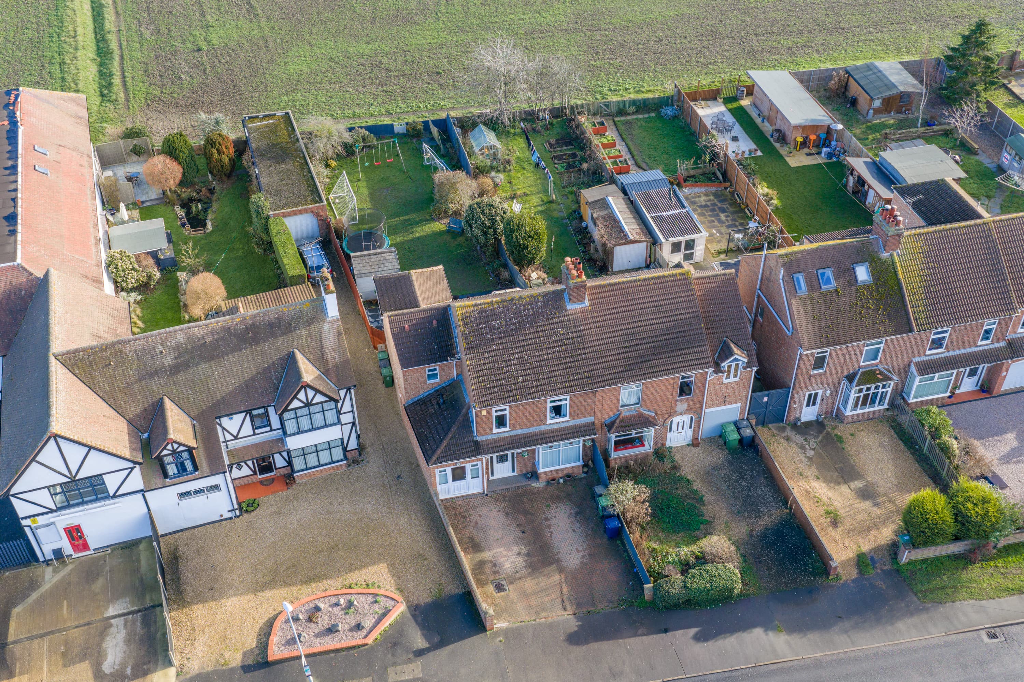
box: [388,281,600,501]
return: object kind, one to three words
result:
house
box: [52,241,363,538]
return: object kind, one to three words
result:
house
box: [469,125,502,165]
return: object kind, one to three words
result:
greenhouse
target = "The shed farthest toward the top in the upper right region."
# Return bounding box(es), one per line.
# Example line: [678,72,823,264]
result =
[839,59,927,123]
